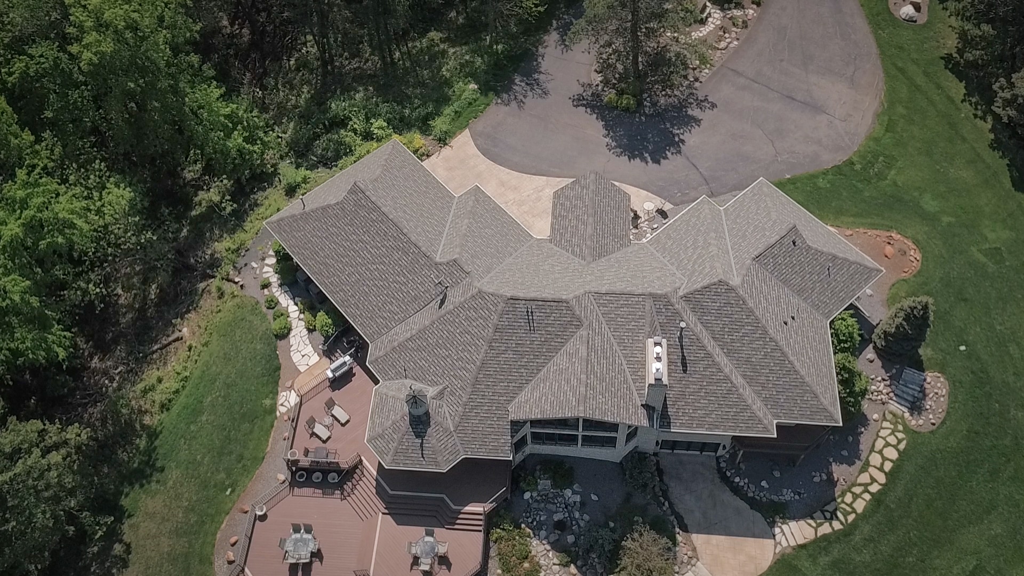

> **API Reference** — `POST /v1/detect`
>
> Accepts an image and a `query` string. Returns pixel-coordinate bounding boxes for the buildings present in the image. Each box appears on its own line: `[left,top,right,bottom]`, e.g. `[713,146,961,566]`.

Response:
[263,138,886,477]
